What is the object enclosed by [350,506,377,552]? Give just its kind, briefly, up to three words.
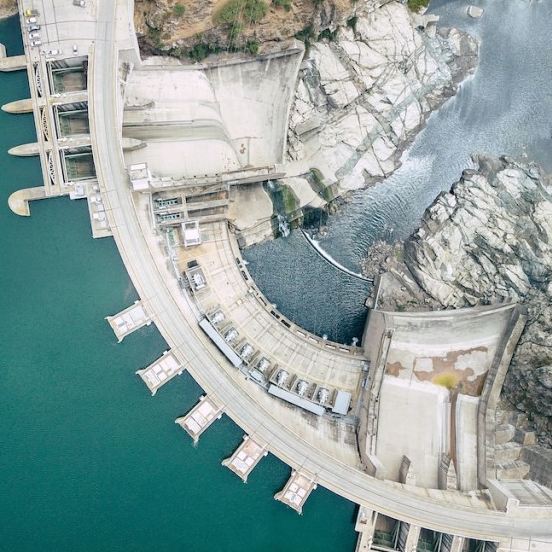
pier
